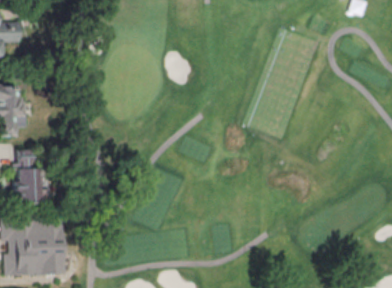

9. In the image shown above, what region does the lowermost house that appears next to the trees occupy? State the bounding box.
[0,220,66,276]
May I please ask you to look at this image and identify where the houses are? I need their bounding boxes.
[0,83,27,136]
[16,150,44,204]
[0,12,22,59]
[0,220,66,276]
